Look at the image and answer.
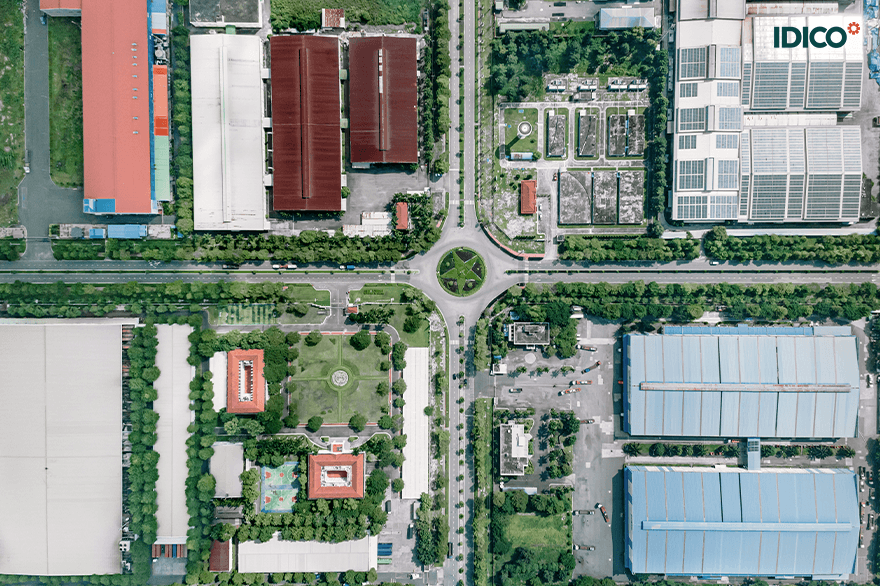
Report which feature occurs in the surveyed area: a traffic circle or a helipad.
traffic circle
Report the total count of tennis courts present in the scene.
0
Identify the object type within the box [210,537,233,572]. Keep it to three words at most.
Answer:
building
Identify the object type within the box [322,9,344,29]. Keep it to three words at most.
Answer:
house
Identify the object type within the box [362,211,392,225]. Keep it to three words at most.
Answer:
shed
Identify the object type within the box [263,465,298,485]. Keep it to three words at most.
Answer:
basketball court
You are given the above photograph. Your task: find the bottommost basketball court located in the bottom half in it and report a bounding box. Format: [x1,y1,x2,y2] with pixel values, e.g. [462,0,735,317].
[263,490,299,510]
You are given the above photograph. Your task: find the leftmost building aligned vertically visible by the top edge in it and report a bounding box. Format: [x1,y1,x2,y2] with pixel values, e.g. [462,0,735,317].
[81,0,156,214]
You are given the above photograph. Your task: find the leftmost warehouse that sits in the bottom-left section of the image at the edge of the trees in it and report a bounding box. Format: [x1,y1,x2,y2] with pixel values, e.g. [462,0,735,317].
[0,325,125,575]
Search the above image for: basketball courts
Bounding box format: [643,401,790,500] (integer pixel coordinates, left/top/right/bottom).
[263,465,298,485]
[263,490,299,510]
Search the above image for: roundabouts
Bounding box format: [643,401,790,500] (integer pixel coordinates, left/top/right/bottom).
[437,247,487,297]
